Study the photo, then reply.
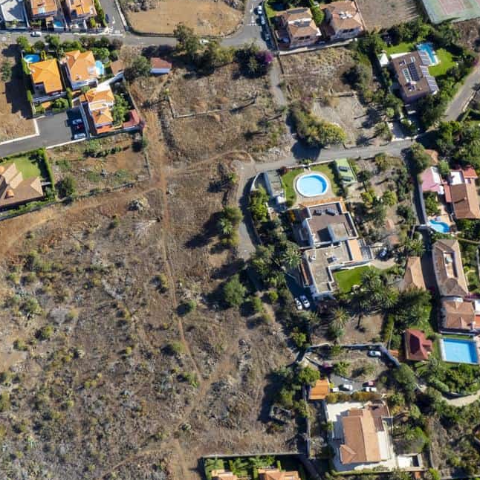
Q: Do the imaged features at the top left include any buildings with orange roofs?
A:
Yes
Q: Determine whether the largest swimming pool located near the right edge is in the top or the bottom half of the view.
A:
bottom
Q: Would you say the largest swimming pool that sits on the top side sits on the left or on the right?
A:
right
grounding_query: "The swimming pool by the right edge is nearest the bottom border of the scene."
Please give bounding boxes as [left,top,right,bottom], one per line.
[439,338,479,365]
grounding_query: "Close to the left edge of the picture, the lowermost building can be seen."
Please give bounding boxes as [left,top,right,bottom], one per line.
[0,162,44,207]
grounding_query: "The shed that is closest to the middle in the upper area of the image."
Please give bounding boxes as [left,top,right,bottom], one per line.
[265,169,287,207]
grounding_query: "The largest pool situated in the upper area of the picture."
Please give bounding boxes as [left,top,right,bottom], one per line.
[295,161,337,200]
